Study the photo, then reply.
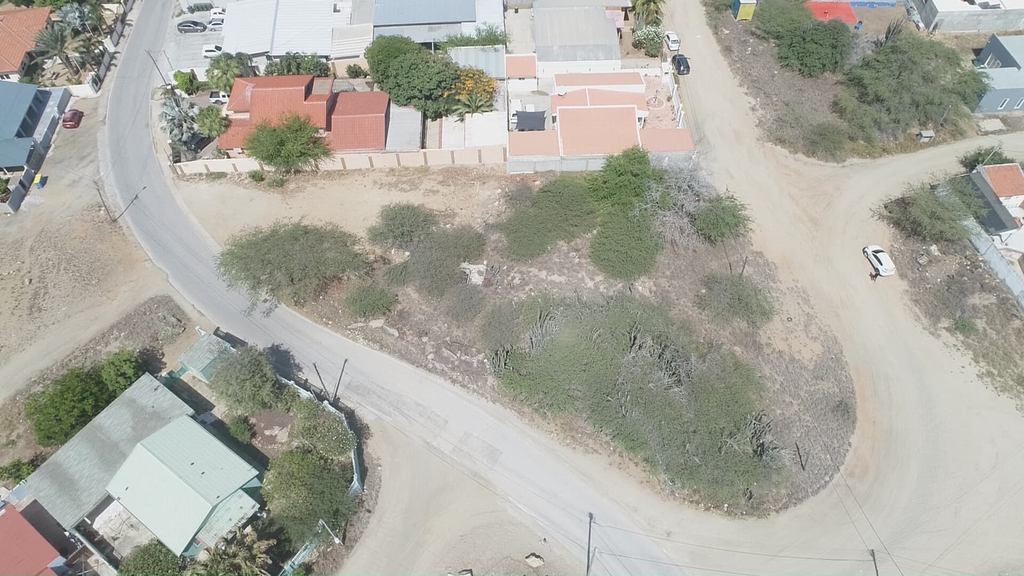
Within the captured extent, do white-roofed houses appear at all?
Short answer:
Yes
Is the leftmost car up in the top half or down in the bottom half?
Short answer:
top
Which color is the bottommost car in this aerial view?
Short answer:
white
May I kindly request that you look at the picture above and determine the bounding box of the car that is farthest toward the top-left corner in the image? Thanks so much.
[60,109,87,130]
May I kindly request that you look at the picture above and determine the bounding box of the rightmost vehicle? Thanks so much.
[862,247,895,276]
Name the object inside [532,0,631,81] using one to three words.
house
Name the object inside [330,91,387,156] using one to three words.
shed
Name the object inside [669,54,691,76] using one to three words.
car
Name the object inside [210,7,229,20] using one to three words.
vehicle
